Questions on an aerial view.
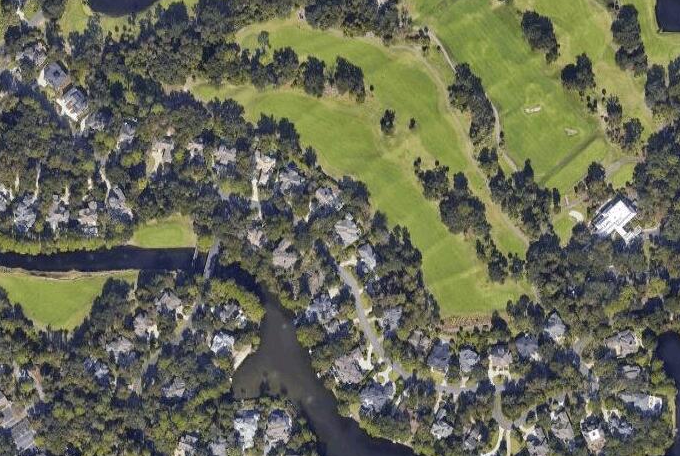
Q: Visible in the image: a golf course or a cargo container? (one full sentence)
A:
The image shows a golf course.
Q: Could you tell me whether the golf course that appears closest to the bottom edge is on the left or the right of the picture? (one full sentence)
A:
It is on the left.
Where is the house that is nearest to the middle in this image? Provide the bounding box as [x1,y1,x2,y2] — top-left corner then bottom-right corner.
[333,215,363,246]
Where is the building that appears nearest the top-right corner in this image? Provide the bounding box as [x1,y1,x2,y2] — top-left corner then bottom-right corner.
[593,197,646,240]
